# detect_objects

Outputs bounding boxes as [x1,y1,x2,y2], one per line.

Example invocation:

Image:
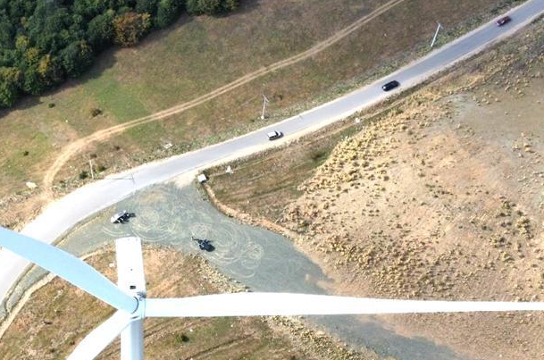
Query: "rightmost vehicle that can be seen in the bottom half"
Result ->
[192,236,211,252]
